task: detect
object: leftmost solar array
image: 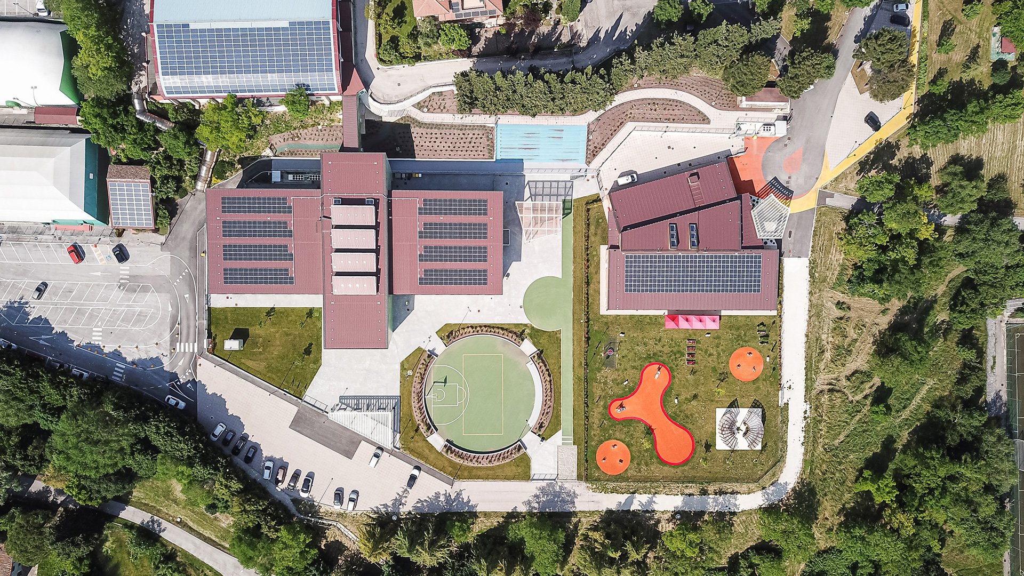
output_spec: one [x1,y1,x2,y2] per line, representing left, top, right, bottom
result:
[109,183,152,226]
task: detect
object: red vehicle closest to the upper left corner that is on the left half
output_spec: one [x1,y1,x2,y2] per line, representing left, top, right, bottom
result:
[67,244,82,264]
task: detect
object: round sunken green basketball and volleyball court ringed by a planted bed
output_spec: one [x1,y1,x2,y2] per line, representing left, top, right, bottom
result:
[424,338,536,449]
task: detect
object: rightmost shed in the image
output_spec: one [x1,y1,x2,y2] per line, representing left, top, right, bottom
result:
[991,27,1022,60]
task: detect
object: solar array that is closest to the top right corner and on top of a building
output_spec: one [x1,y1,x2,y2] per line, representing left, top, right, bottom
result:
[625,254,762,293]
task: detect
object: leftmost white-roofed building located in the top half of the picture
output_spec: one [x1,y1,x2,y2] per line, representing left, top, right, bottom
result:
[0,134,108,231]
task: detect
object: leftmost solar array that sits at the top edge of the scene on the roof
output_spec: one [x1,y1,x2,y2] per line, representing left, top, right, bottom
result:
[158,24,336,93]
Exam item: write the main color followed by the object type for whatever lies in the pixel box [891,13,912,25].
black vehicle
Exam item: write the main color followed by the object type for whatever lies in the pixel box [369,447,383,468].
white car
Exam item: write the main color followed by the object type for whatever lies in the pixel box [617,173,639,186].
white vehicle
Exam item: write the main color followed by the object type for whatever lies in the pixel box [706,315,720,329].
pink gazebo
